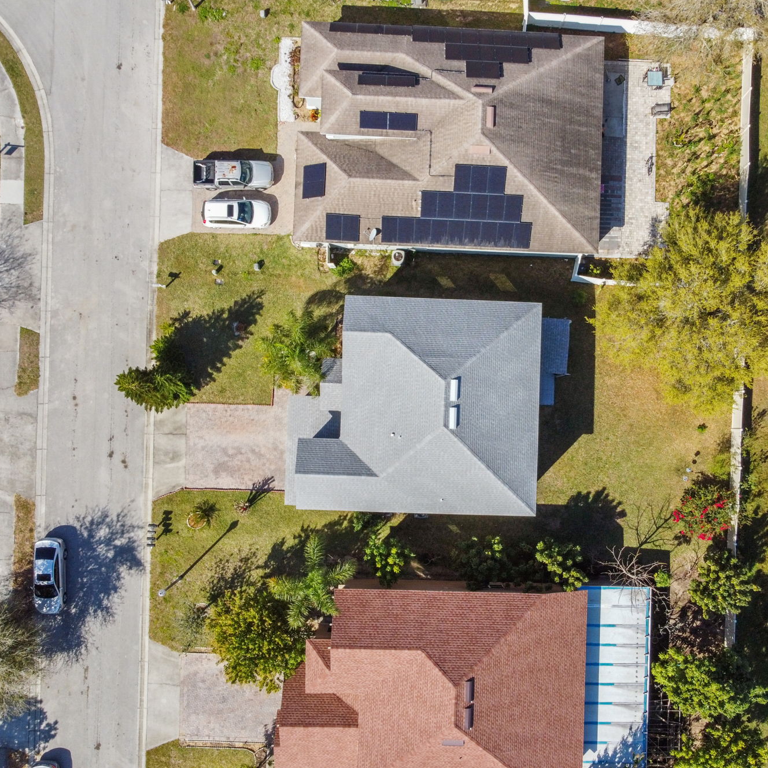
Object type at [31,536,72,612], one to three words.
car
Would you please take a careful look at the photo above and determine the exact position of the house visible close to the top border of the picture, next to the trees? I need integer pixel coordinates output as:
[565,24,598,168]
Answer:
[289,21,605,258]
